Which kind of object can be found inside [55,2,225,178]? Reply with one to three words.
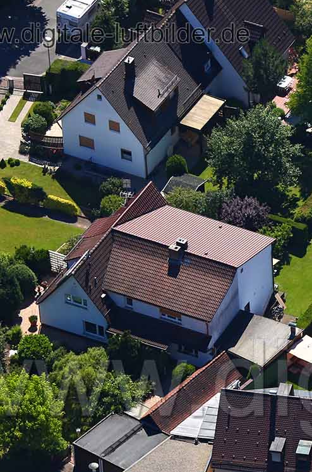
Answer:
house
